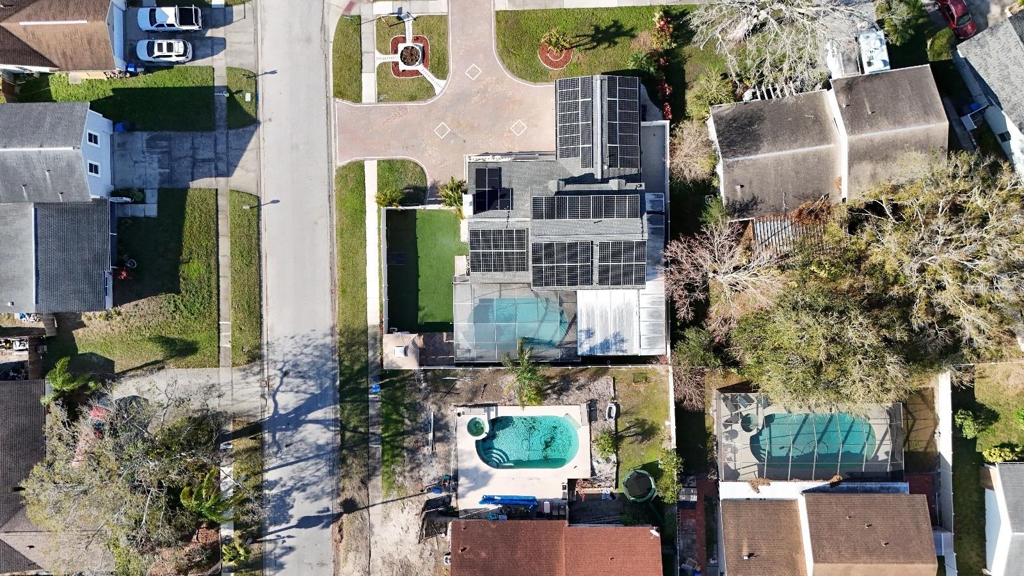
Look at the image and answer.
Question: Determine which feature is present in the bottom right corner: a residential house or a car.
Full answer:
It is a residential house that can be seen in the bottom right corner.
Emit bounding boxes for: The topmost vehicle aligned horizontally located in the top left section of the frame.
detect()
[138,4,206,33]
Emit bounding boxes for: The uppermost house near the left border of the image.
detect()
[0,0,126,81]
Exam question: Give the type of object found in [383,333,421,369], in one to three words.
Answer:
gazebo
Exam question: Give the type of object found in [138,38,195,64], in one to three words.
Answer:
car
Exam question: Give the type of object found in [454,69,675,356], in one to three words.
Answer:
house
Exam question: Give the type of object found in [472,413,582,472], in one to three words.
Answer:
swimming pool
